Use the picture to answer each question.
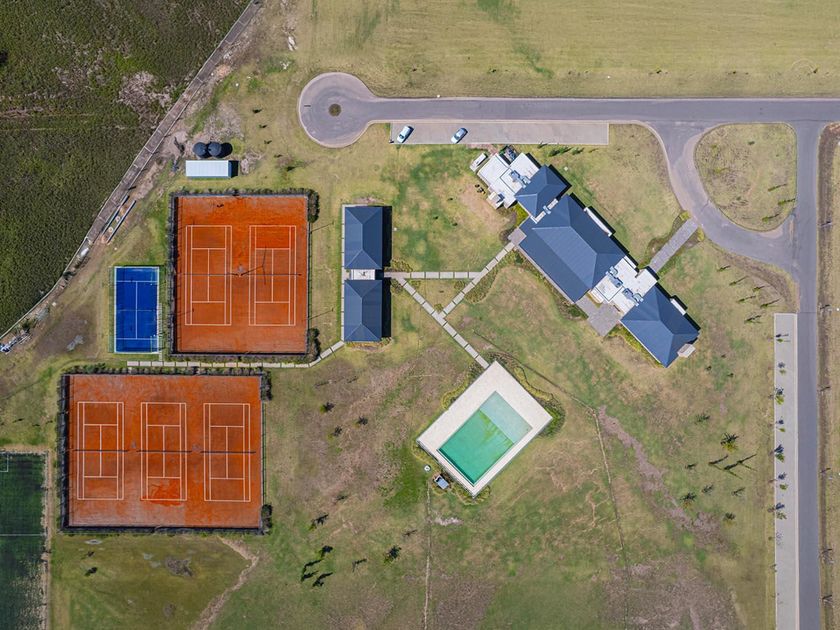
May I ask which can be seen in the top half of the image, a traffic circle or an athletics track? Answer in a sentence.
Visible in the top half of the image is a traffic circle.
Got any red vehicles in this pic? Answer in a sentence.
No, the scene contains no red vehicle.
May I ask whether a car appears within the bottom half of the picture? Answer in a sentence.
No, within the bottom half of the picture there is no car.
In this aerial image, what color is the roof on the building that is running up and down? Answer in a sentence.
The color of the roof on the building that is running up and down is blue.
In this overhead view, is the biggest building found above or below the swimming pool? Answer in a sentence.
Relative to the swimming pool, the biggest building lies above it.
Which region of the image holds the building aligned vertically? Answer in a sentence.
The building aligned vertically is in the center part of the image.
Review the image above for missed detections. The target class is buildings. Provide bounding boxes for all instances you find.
[345,207,382,341]
[477,153,700,367]
[186,160,231,178]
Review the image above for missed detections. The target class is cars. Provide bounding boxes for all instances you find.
[450,126,468,145]
[395,125,412,144]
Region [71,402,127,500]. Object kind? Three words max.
tennis court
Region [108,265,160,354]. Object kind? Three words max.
sports court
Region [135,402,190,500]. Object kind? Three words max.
tennis court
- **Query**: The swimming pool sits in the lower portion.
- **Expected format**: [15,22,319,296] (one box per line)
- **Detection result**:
[417,362,552,494]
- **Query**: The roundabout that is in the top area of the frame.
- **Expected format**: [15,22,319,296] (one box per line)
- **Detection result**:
[299,71,377,148]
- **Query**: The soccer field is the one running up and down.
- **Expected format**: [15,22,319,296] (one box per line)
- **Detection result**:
[0,452,47,630]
